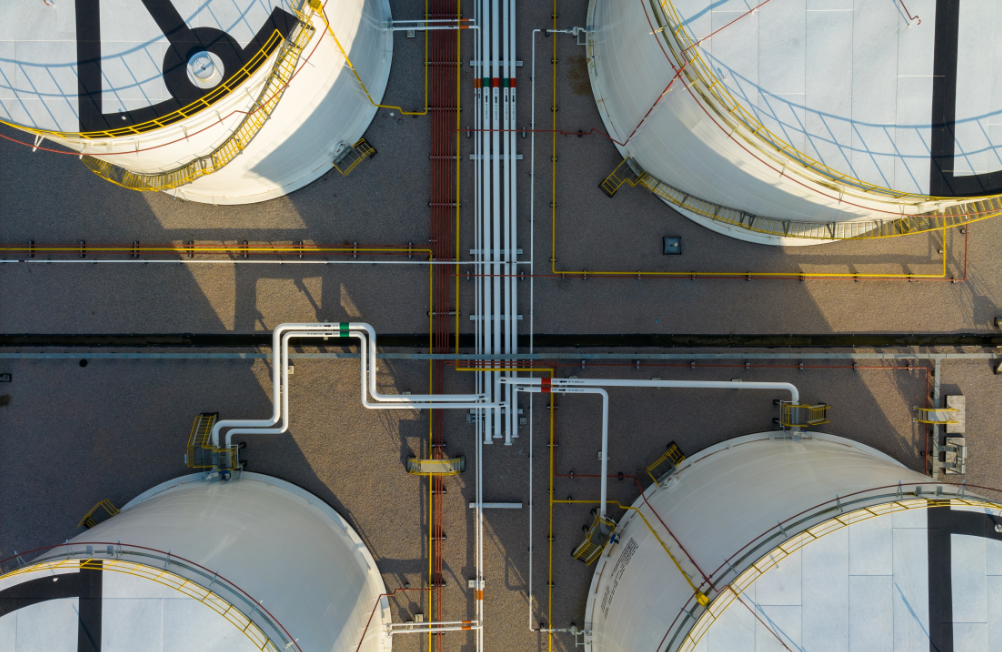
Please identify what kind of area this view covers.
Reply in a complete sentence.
This looks like an industrial area.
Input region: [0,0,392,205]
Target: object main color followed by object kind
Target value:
white storage tank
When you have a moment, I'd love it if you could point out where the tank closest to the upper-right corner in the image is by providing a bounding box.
[586,0,1002,246]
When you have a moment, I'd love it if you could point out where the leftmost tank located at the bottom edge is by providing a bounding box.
[0,472,392,652]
